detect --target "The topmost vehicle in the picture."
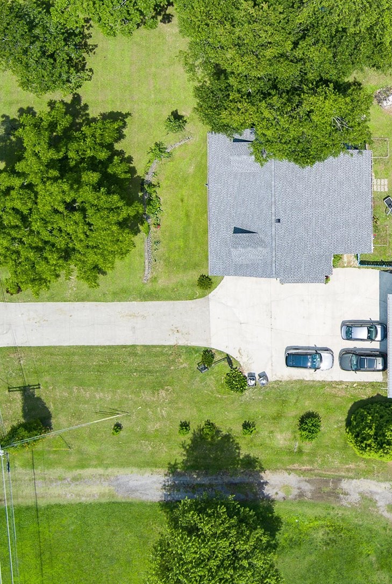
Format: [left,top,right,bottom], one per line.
[342,321,386,342]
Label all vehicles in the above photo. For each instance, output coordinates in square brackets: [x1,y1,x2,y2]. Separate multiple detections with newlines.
[286,348,334,371]
[341,350,386,373]
[342,321,386,342]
